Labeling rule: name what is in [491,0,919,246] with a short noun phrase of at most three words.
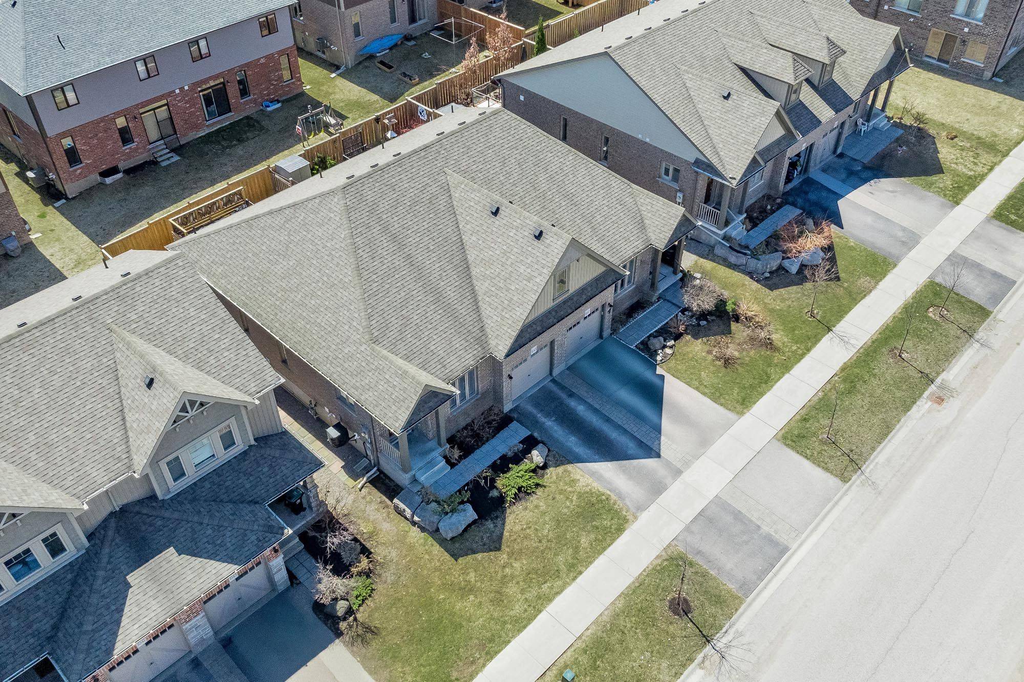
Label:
house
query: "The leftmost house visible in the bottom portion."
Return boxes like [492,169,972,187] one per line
[0,250,329,682]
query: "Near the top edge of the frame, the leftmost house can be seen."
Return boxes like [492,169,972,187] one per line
[0,0,305,195]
